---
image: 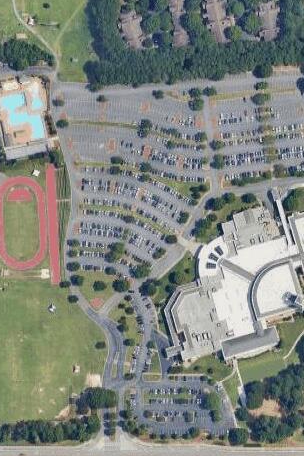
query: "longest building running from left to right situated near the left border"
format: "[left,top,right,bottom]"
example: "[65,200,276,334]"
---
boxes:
[3,143,49,159]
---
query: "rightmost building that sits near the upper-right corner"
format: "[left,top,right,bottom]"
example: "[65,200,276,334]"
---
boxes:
[255,0,281,42]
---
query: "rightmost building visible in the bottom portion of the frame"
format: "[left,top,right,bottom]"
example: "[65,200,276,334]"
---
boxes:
[164,207,304,363]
